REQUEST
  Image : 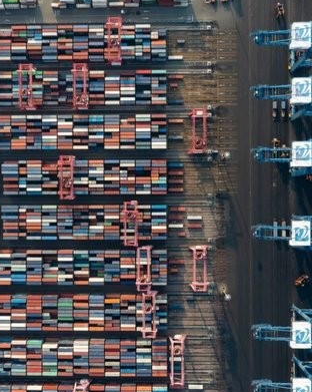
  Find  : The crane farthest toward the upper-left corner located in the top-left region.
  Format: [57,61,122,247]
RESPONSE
[20,61,46,112]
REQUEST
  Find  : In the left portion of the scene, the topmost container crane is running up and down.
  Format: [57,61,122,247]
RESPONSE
[102,15,128,68]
